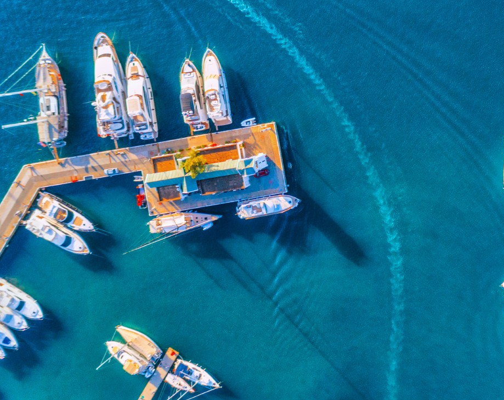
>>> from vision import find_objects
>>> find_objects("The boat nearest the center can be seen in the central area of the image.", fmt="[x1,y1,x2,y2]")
[238,193,300,220]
